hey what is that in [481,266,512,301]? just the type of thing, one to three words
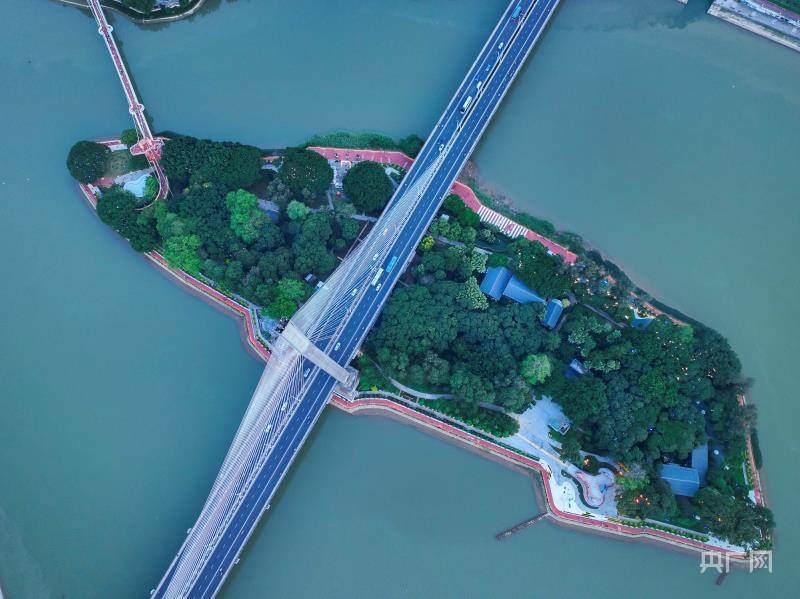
building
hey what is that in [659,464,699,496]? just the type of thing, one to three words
house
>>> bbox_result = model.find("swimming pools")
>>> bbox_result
[123,174,151,198]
